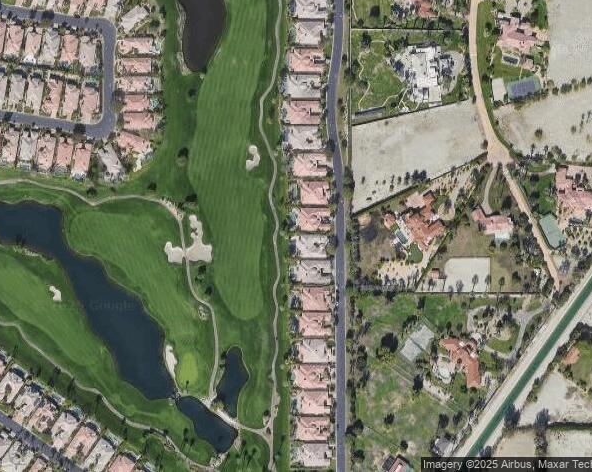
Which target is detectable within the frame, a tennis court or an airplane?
tennis court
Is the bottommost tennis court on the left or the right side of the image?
right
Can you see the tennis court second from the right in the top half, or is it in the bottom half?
top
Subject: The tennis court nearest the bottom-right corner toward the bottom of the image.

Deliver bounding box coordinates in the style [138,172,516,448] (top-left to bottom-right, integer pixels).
[401,325,436,362]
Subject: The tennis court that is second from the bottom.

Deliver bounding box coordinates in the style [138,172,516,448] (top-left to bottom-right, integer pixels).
[537,213,567,249]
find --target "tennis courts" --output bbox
[506,75,542,101]
[537,213,567,249]
[401,325,436,362]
